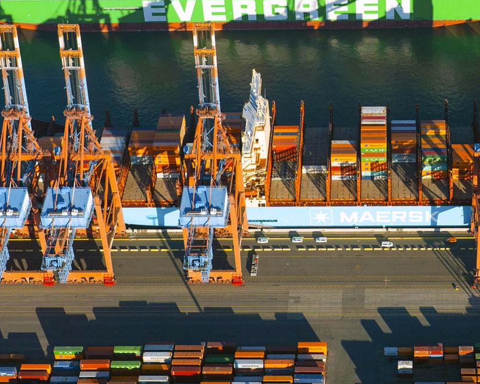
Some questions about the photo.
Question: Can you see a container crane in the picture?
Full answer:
Yes, the frame does contain a container crane.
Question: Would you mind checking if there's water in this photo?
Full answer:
Yes, the picture does contain water.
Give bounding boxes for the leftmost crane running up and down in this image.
[0,19,69,286]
